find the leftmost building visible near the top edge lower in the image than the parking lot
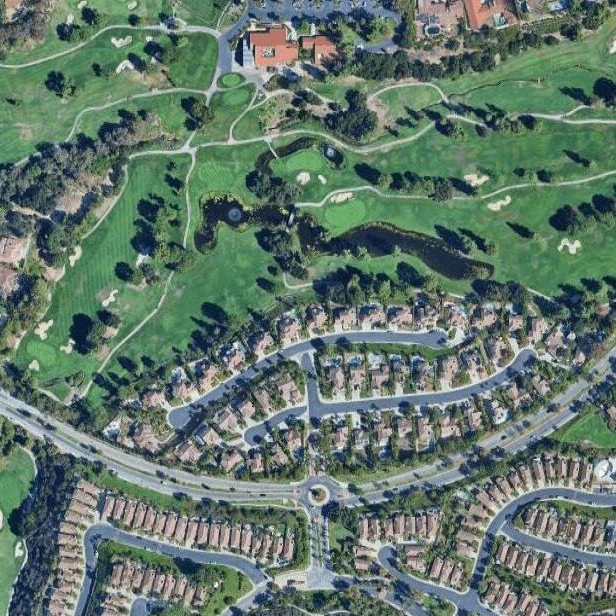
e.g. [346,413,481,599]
[243,27,298,67]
